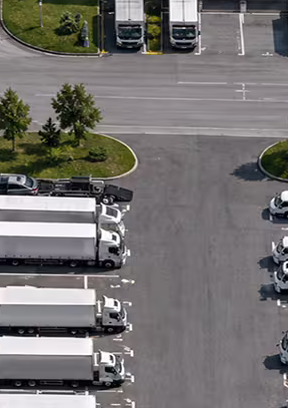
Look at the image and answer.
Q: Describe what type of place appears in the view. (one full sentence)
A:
What you see here is a parking lot.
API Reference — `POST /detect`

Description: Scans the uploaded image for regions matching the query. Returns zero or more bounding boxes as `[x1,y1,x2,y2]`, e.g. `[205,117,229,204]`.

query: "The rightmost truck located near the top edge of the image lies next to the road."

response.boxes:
[165,0,201,47]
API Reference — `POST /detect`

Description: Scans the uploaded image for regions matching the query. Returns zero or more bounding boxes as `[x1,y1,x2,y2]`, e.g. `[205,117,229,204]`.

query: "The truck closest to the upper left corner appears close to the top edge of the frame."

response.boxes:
[111,0,147,47]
